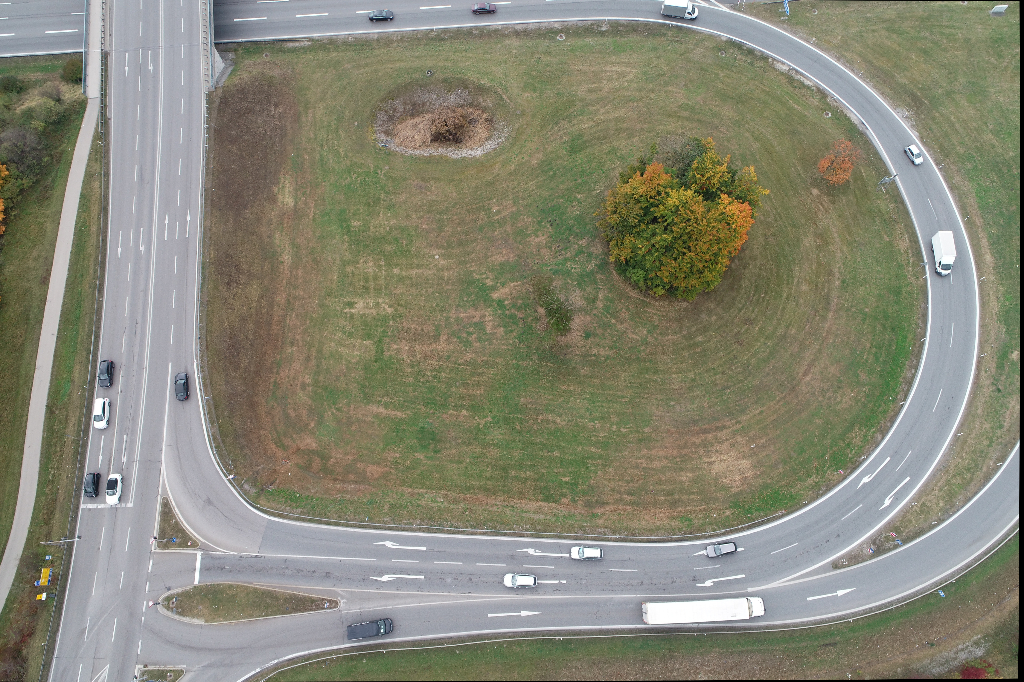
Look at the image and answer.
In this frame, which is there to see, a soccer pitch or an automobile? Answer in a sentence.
There is an automobile in the scene.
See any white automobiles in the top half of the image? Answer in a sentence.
Yes, a white automobile can be seen in the top half of the image.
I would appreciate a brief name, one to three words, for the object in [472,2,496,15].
vehicle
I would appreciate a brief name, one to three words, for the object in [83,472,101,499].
car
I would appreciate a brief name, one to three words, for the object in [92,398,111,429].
car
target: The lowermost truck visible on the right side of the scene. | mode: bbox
[638,594,766,623]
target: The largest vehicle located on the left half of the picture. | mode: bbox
[346,617,392,641]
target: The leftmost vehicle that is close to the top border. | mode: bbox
[369,9,394,22]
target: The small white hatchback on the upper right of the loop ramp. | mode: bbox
[903,145,923,165]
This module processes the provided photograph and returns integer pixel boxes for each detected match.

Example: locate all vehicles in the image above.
[369,9,394,22]
[903,145,923,165]
[663,0,699,19]
[92,398,111,429]
[504,572,537,589]
[638,594,766,623]
[83,472,101,499]
[571,545,603,561]
[97,360,115,388]
[104,474,123,506]
[472,2,496,15]
[931,231,956,274]
[346,617,392,641]
[174,373,190,401]
[705,541,739,559]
